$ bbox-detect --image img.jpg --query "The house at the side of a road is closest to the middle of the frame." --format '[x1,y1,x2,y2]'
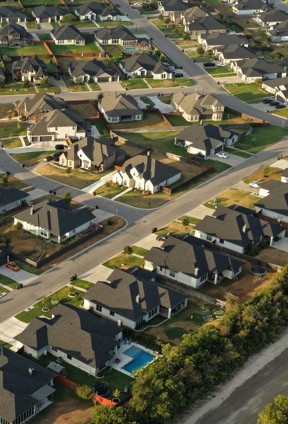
[112,158,179,200]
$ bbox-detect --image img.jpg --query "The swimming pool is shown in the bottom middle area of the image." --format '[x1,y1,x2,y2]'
[111,340,160,377]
